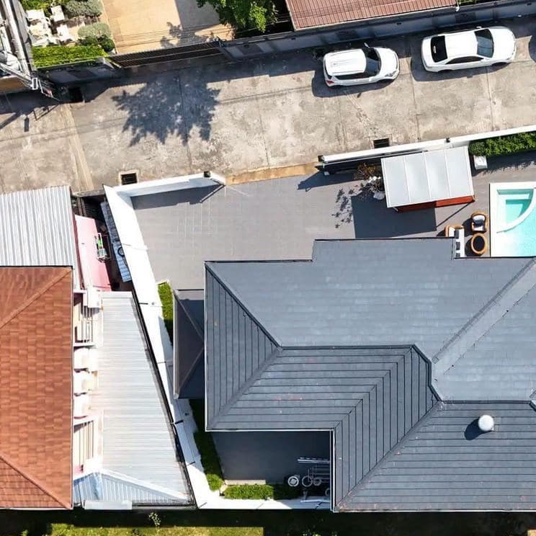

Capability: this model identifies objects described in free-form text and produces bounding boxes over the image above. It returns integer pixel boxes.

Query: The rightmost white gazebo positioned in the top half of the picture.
[382,145,475,213]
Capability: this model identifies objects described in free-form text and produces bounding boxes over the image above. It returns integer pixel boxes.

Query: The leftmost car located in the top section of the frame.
[321,43,402,89]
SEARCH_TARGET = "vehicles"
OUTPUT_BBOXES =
[321,43,402,89]
[421,25,515,75]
